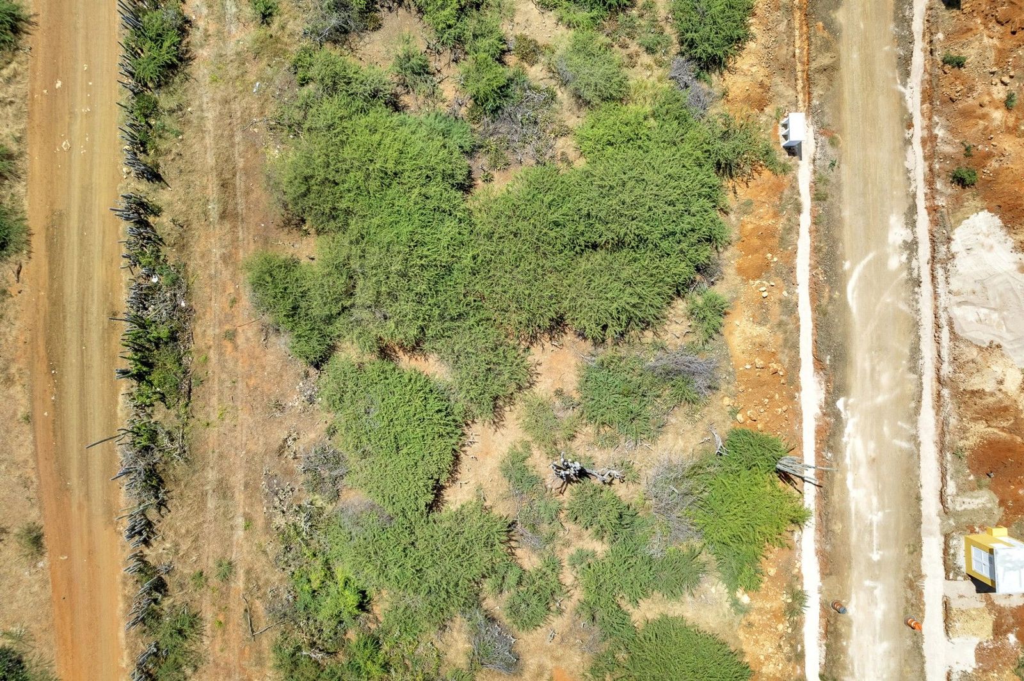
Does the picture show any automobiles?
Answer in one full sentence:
No, the scene contains no automobile.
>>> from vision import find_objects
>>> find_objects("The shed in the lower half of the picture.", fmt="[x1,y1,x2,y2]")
[965,528,1024,593]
